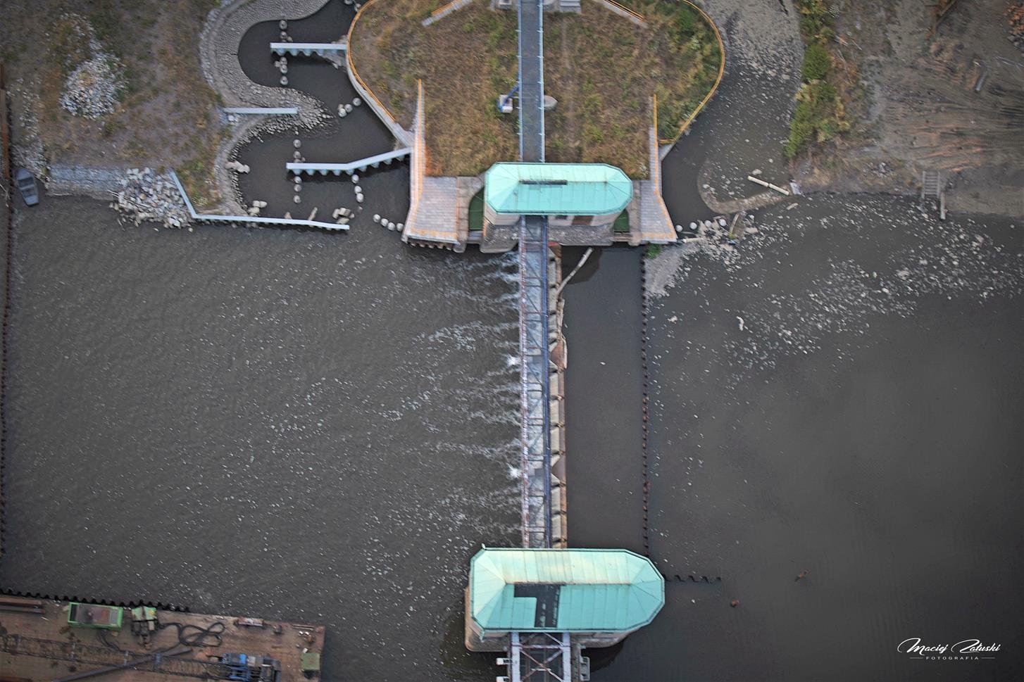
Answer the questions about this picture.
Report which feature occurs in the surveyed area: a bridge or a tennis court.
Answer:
bridge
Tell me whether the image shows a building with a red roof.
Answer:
No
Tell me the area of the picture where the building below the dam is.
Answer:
bottom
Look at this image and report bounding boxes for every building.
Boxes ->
[471,546,664,638]
[486,161,632,225]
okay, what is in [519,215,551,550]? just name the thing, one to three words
bridge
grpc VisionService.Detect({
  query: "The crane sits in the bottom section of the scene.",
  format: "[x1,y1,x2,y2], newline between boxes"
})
[210,654,282,682]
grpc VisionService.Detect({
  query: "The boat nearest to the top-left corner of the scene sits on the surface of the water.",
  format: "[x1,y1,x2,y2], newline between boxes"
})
[17,168,39,205]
